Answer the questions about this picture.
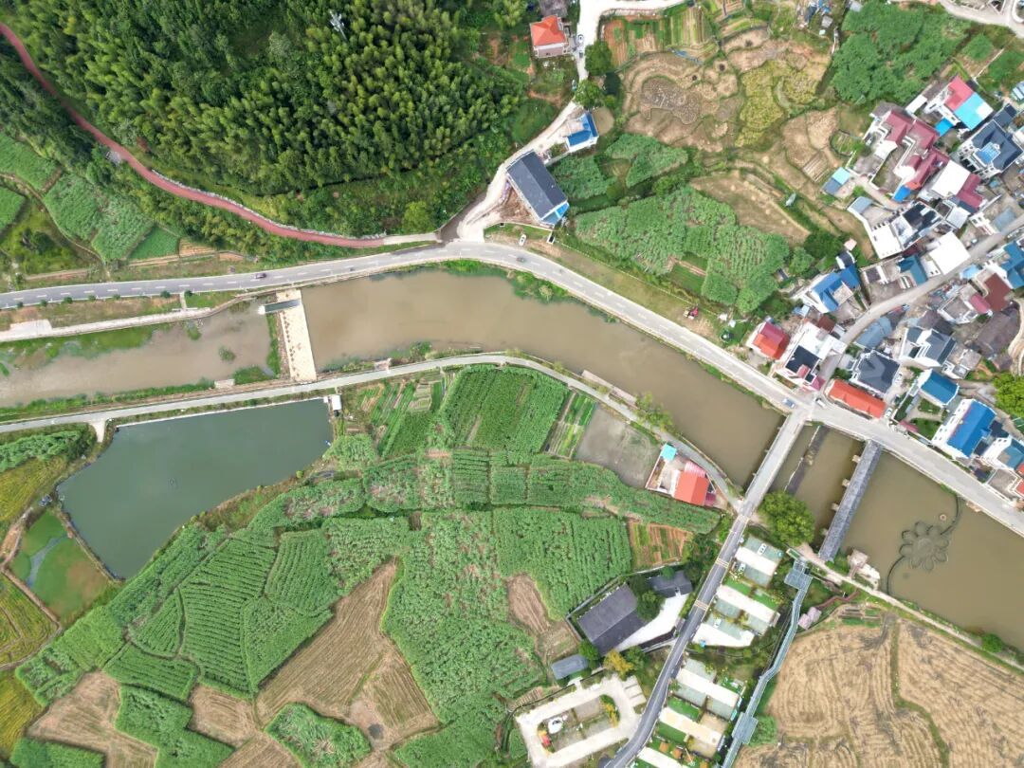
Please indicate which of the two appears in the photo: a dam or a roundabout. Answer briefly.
dam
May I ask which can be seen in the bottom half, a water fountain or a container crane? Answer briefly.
water fountain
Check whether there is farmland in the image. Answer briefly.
Yes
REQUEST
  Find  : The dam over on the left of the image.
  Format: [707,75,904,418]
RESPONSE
[258,290,317,380]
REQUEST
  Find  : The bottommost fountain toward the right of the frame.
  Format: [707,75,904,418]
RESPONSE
[887,497,959,594]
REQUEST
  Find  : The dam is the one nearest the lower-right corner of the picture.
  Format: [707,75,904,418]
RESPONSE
[785,430,827,495]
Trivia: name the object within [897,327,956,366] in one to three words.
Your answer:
house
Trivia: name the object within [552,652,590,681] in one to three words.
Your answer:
building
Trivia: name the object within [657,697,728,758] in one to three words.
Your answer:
building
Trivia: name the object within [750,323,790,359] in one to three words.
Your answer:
house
